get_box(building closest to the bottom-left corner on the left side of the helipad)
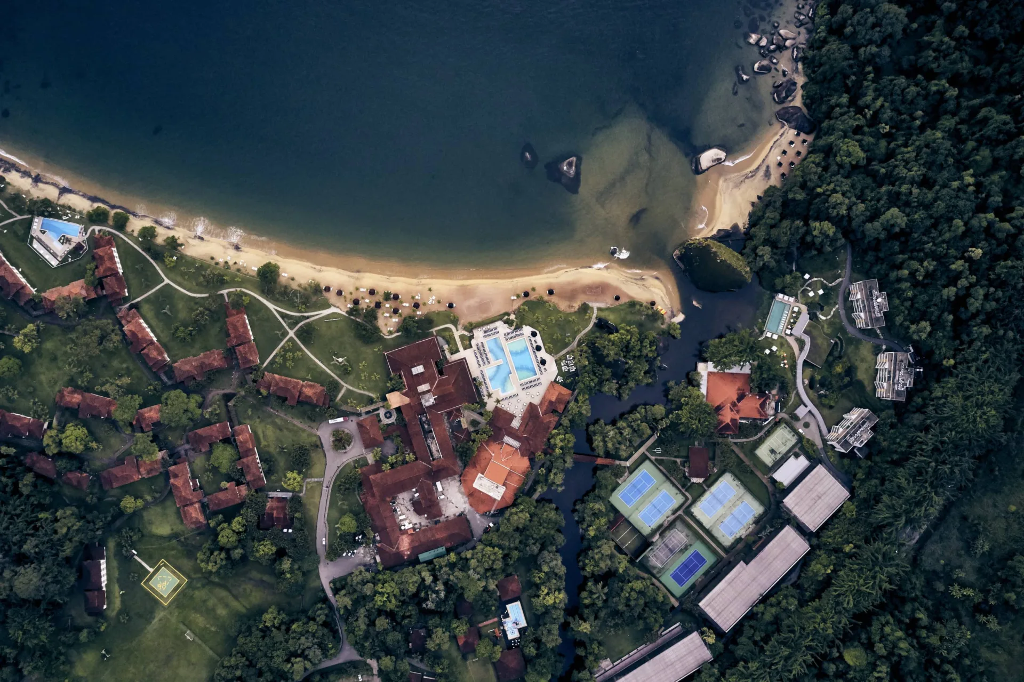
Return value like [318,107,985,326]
[83,542,111,613]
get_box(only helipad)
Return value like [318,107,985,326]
[141,559,188,605]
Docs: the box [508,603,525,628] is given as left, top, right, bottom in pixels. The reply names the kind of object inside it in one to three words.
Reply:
swimming pool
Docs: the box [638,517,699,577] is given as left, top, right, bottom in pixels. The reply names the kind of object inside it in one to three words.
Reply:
tennis court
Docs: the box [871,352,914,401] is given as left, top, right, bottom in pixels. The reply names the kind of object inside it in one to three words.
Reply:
building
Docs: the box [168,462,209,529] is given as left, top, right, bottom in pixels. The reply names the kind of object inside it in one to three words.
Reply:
house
